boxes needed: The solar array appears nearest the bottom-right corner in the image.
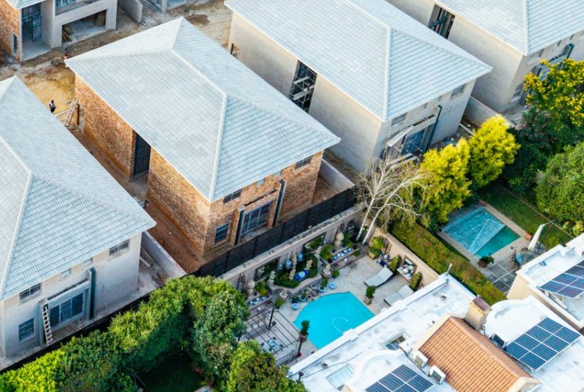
[507,320,583,372]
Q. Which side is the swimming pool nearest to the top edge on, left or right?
right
